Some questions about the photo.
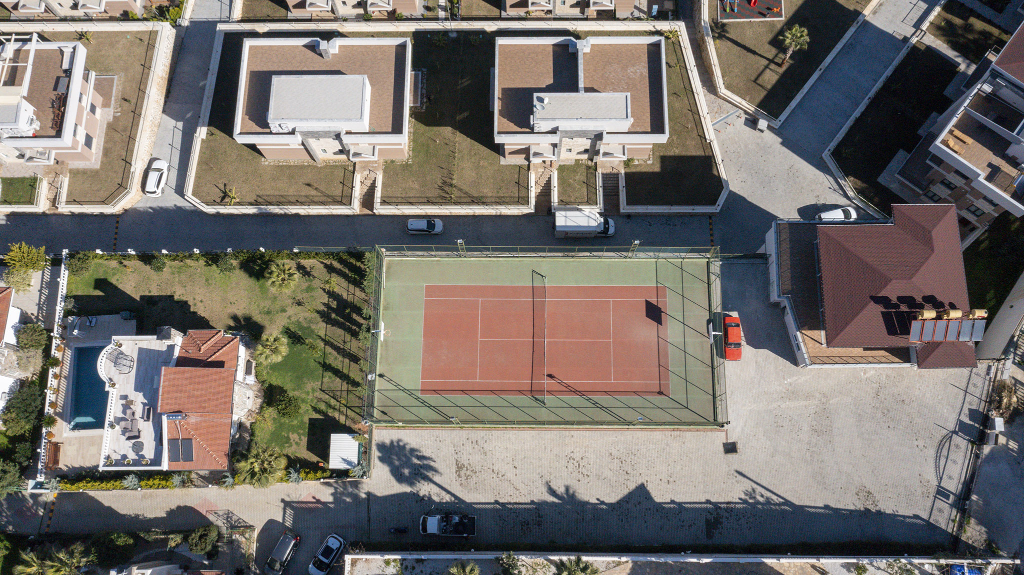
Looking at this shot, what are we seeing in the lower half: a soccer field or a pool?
pool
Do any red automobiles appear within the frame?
Yes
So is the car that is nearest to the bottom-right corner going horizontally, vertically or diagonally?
vertically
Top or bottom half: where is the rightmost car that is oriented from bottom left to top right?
bottom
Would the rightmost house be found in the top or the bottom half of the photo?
top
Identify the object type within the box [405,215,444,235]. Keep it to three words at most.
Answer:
car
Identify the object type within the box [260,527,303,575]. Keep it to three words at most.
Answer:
car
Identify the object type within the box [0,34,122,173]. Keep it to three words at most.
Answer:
house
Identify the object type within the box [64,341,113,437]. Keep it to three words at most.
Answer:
swimming pool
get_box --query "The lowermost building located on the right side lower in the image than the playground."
[750,203,976,373]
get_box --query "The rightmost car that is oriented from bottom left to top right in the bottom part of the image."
[306,530,347,575]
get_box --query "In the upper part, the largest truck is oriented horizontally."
[554,212,612,239]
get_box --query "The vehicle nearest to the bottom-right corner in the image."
[725,315,747,361]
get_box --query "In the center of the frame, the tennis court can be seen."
[371,255,718,428]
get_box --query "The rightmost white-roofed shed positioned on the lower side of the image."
[329,434,362,469]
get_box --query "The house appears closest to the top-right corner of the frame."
[876,27,1024,263]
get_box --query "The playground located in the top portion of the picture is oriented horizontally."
[718,0,785,20]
